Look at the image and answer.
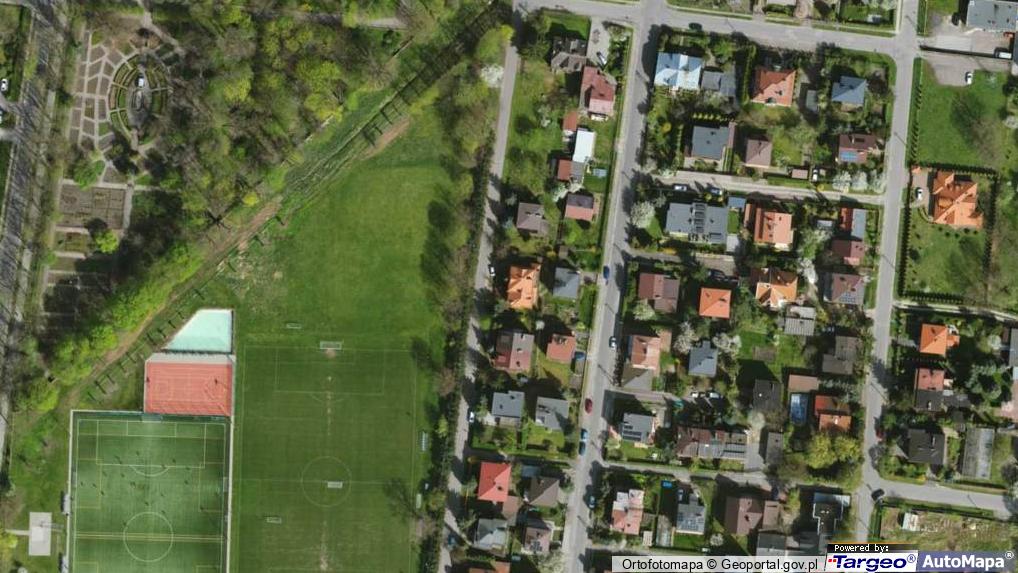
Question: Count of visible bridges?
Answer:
0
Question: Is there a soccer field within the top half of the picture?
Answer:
No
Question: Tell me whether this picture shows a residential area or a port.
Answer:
residential area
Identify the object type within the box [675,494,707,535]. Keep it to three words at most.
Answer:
house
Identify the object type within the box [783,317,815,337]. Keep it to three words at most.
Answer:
shed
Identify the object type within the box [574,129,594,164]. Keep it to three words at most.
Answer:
building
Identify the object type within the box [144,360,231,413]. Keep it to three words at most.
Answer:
sports court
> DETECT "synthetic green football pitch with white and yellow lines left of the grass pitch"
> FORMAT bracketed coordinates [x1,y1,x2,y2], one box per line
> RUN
[67,360,235,573]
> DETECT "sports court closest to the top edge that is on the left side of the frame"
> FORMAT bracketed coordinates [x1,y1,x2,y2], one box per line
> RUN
[163,308,233,351]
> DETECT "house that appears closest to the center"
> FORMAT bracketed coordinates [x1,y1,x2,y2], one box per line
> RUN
[507,262,541,310]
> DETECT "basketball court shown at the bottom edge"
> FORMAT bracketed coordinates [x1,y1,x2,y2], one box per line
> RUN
[29,512,52,556]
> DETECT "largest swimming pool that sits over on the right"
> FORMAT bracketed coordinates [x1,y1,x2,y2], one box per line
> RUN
[790,393,807,424]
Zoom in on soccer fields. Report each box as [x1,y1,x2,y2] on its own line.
[67,360,235,573]
[232,340,424,573]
